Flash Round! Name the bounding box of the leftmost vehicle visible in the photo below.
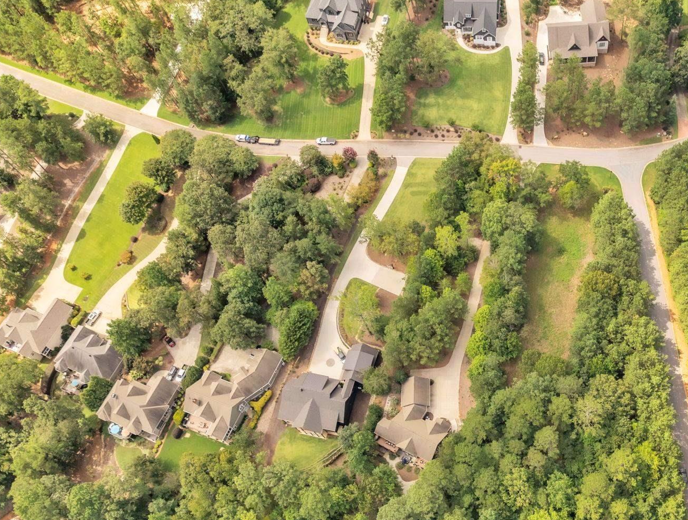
[82,307,103,328]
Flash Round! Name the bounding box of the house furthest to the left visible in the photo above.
[0,298,76,365]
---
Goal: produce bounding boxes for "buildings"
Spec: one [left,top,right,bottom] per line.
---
[443,0,501,45]
[183,349,285,443]
[97,376,184,445]
[0,298,76,365]
[54,326,127,397]
[374,376,451,467]
[277,344,380,436]
[306,0,374,41]
[546,0,610,66]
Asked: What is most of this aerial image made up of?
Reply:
trees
